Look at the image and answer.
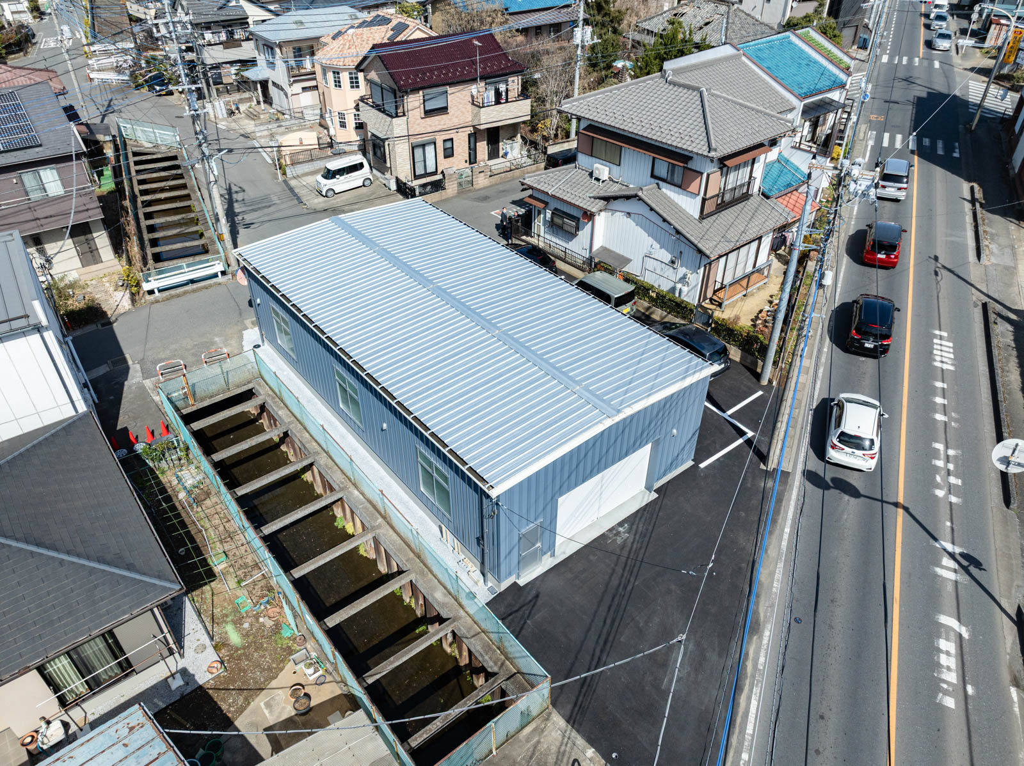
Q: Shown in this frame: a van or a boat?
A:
van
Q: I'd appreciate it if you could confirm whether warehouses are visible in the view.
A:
Yes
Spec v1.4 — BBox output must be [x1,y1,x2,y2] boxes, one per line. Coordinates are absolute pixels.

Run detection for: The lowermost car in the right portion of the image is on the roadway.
[826,385,893,468]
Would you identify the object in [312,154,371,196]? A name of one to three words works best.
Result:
van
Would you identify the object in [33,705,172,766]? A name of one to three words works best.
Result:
shed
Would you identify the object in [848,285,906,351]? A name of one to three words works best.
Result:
car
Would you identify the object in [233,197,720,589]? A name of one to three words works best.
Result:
warehouse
